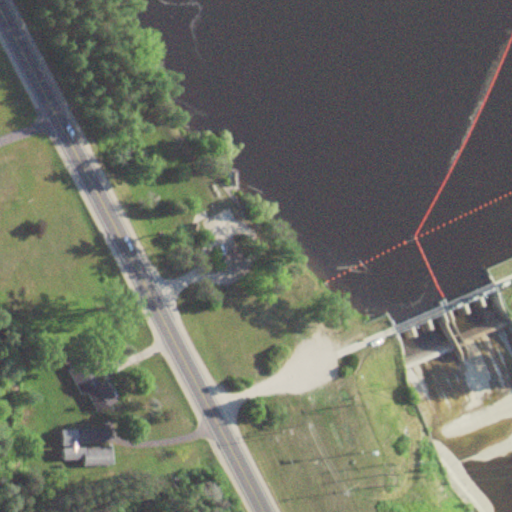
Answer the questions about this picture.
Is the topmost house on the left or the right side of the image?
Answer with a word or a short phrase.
left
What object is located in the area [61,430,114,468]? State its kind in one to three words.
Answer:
house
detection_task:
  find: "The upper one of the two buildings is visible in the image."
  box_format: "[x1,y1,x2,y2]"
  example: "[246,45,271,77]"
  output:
[70,366,120,414]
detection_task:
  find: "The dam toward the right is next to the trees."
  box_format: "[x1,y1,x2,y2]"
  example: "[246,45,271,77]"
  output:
[362,256,512,436]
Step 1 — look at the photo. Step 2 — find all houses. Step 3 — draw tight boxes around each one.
[70,366,120,414]
[61,430,114,468]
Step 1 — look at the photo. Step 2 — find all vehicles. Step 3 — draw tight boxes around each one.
[220,242,225,252]
[126,239,134,250]
[371,338,384,347]
[66,126,74,136]
[502,280,512,288]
